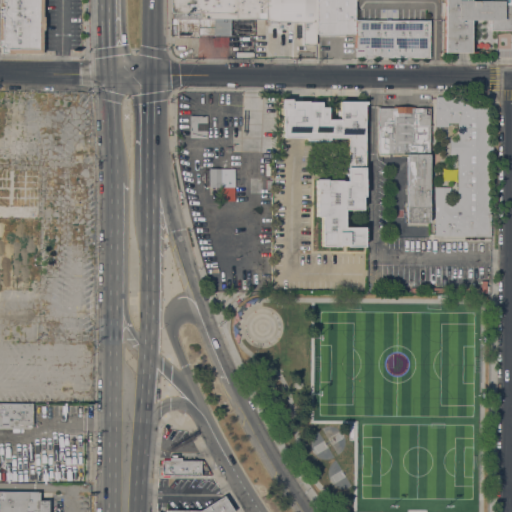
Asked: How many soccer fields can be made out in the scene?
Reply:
2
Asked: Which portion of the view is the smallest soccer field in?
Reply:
bottom right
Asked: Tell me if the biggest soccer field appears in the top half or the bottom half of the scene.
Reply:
bottom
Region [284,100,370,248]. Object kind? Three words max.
building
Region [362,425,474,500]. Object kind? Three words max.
soccer field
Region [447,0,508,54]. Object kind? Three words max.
building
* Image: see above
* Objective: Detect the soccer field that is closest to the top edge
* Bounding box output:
[321,312,474,416]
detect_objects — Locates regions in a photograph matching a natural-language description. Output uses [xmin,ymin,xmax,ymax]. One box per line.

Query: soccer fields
[362,425,474,500]
[321,312,474,416]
